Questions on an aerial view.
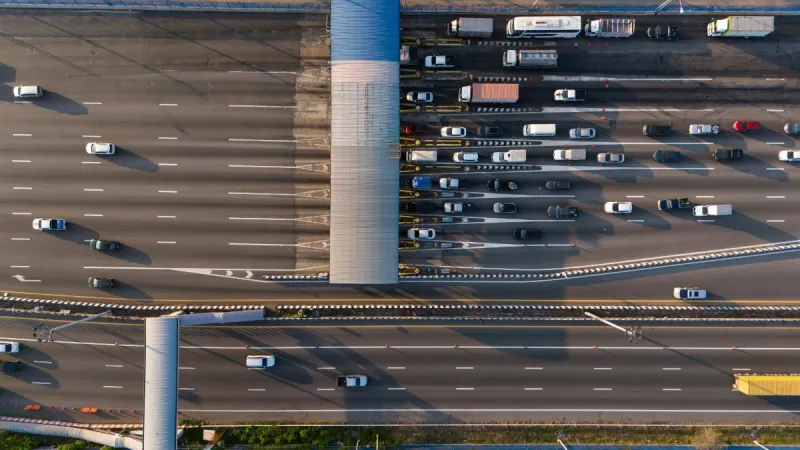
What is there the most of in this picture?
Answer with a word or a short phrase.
paved ground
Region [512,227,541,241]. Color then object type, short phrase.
black car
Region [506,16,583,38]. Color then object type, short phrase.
white bus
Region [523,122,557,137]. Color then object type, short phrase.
white vehicle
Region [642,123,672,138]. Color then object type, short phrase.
black car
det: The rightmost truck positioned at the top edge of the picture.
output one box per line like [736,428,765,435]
[705,14,780,37]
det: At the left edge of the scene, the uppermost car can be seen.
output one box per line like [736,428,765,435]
[13,84,44,98]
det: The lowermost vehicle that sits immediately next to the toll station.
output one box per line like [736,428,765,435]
[407,227,435,241]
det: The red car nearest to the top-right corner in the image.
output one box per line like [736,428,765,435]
[731,120,761,133]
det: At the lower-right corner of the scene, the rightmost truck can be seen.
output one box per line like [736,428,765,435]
[737,373,800,395]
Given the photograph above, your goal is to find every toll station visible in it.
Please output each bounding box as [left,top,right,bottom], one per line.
[328,0,401,285]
